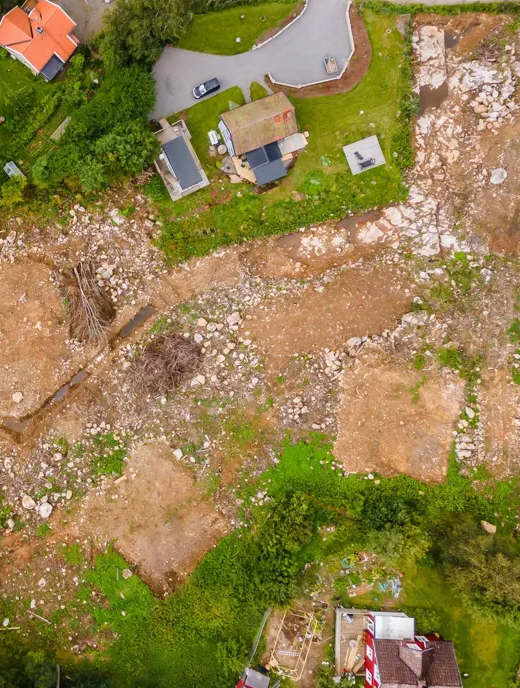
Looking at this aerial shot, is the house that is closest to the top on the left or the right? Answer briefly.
left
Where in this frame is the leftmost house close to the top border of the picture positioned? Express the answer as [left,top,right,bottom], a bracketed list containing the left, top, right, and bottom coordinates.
[0,0,80,84]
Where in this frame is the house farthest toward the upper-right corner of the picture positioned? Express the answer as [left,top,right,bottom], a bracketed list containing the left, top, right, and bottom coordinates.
[220,91,307,187]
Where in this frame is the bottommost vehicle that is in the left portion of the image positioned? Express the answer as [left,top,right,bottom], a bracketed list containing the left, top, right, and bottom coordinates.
[192,76,223,98]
